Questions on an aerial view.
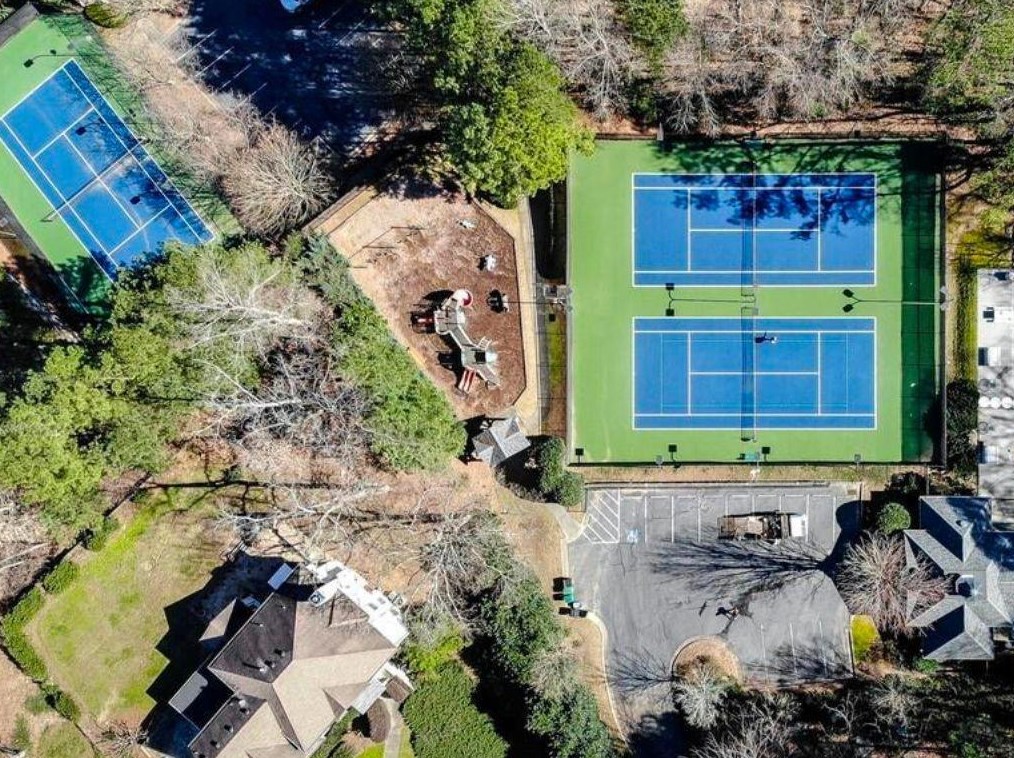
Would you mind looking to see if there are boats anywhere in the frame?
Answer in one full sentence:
No, there appears to be no boat in this shot.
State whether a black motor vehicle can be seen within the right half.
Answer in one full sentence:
No, I can find no black motor vehicle within the right half.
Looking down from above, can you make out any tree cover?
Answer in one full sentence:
Yes, the picture does contain tree cover.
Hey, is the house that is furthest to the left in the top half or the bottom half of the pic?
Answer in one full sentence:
The house that is furthest to the left sits in the bottom half of the picture.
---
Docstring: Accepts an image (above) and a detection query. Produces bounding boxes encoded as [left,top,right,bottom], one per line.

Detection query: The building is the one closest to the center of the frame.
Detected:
[469,414,534,469]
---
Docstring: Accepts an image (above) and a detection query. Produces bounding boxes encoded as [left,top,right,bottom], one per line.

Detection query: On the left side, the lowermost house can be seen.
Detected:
[168,554,417,758]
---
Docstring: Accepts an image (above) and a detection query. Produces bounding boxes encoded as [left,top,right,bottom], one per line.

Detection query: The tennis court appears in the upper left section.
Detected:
[0,15,261,358]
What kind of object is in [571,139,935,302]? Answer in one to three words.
tennis court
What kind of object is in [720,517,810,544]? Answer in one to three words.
truck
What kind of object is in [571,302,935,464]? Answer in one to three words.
tennis court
